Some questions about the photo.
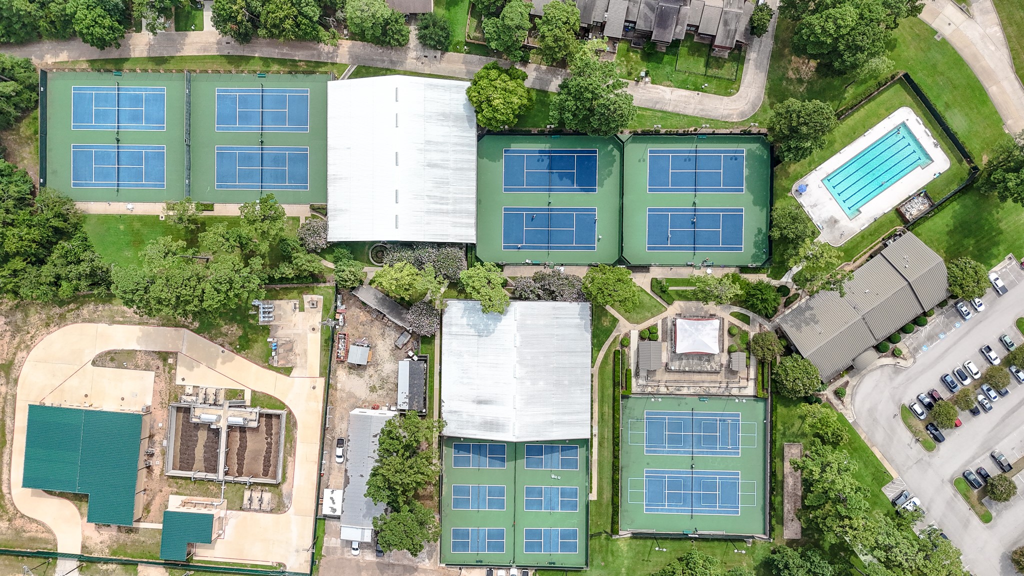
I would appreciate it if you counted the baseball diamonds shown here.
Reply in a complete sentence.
No baseball diamonds are visible.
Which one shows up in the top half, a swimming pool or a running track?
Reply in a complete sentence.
What appears in the top half is a swimming pool.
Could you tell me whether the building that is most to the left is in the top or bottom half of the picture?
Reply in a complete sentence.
Seen from above, the building that is most to the left lies in the bottom half of the view.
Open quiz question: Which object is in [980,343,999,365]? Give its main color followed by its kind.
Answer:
white vehicle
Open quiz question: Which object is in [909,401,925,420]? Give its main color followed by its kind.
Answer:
white car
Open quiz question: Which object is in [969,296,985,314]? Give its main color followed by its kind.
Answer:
white car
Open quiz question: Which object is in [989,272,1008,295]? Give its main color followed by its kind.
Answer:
white vehicle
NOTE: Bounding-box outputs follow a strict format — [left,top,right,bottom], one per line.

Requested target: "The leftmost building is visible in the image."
[22,403,150,526]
